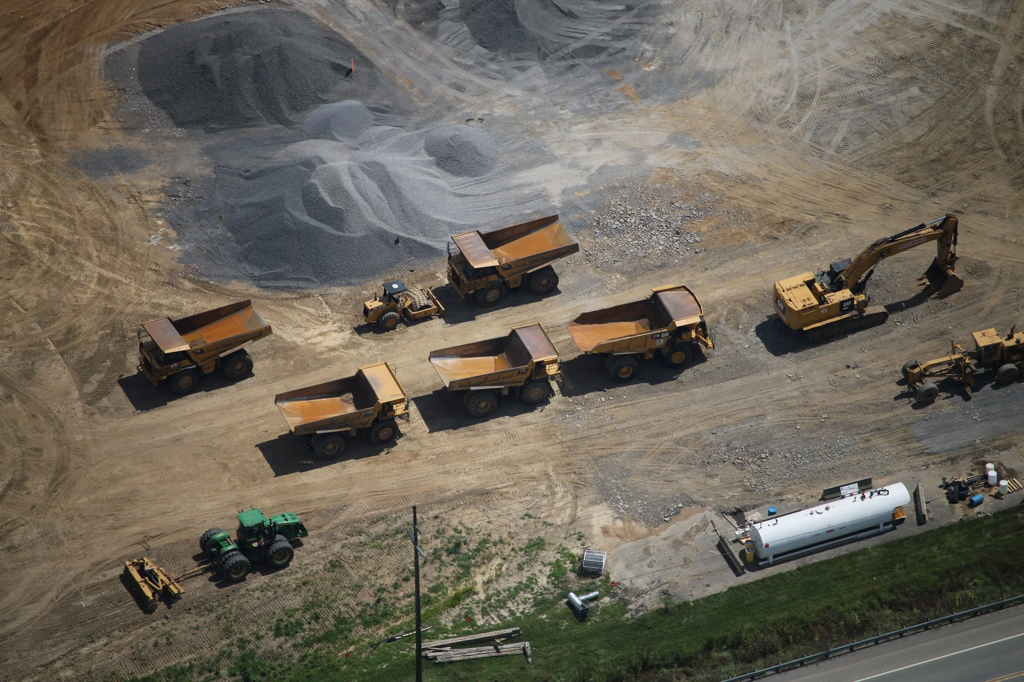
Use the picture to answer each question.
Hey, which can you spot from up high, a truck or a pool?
truck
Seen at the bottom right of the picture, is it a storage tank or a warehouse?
storage tank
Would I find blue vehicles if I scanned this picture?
No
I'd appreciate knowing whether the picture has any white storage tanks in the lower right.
Yes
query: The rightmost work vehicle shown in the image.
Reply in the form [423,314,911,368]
[902,322,1024,403]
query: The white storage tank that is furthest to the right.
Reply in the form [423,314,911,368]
[732,483,914,565]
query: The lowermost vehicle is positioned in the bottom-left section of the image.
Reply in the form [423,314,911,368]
[199,506,308,585]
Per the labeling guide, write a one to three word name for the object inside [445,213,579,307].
truck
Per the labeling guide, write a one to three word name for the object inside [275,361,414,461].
truck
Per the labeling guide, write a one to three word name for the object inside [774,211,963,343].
work vehicle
